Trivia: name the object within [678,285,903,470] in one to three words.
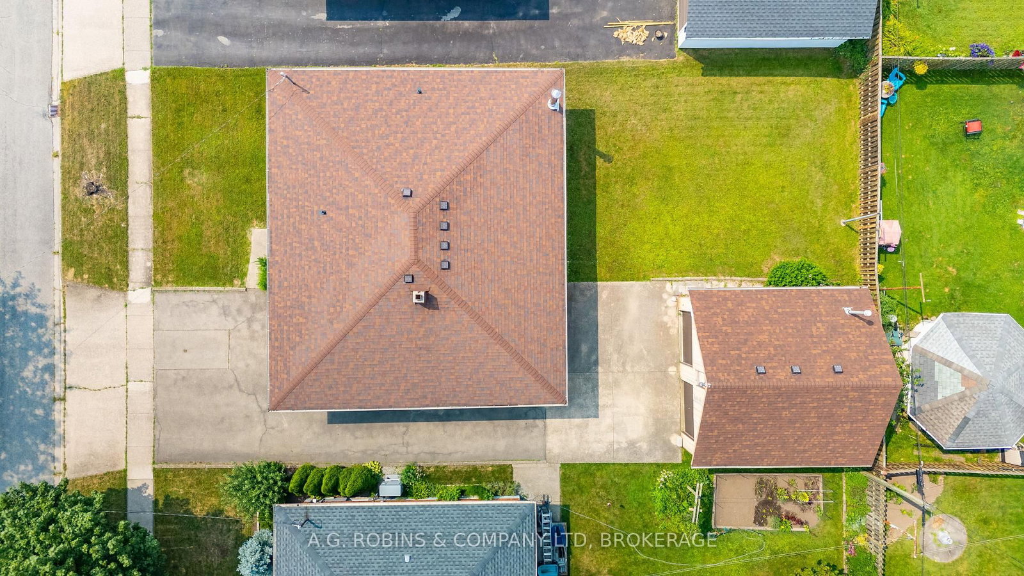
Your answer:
building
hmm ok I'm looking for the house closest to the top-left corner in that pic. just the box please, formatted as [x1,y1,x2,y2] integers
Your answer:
[266,67,567,410]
